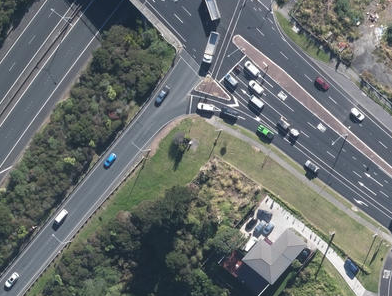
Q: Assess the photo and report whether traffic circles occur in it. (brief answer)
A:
No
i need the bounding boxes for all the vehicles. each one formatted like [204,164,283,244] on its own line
[304,160,320,173]
[256,124,274,138]
[298,248,310,262]
[244,217,258,232]
[54,208,70,224]
[344,260,358,274]
[4,273,18,288]
[156,86,170,102]
[224,73,239,86]
[250,94,266,109]
[198,103,214,110]
[249,80,264,95]
[203,32,218,63]
[314,77,330,91]
[256,210,272,220]
[276,116,292,130]
[220,106,238,118]
[252,220,266,234]
[350,107,365,122]
[262,222,274,235]
[104,153,117,166]
[244,61,260,76]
